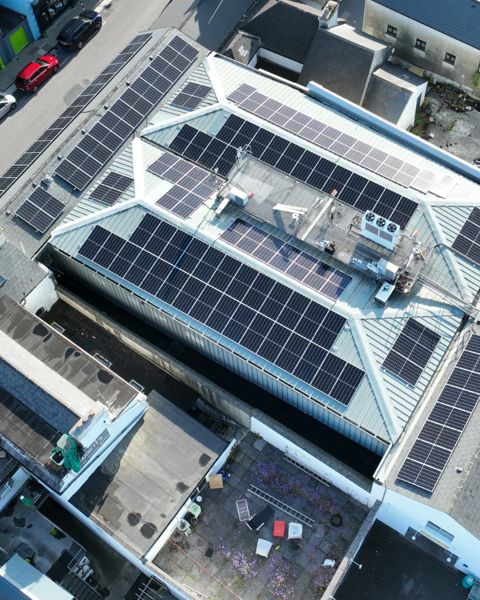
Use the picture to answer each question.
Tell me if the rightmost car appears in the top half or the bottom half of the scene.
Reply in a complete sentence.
You can find the rightmost car in the top half.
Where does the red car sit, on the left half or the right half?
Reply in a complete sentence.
It is on the left.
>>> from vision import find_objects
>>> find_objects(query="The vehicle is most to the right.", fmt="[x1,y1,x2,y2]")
[52,10,103,55]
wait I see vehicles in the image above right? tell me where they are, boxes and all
[52,10,103,55]
[0,94,16,122]
[11,56,62,98]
